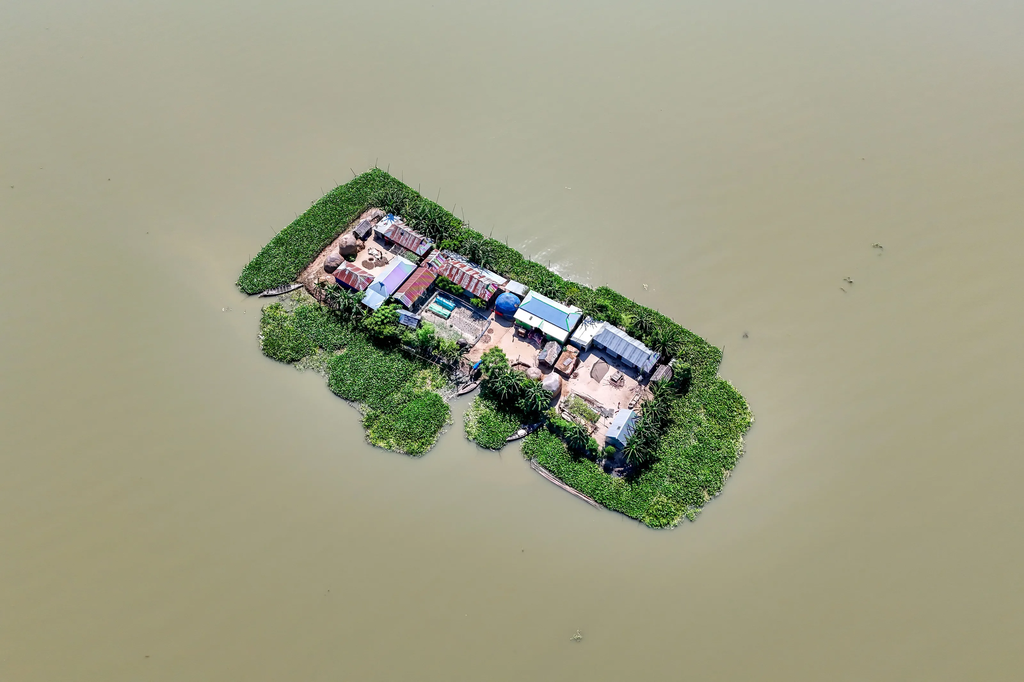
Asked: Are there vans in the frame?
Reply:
No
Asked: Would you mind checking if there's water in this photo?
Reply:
Yes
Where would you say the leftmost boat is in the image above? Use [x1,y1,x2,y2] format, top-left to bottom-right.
[258,283,302,298]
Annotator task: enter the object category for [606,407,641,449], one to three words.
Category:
house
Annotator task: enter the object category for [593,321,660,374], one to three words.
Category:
house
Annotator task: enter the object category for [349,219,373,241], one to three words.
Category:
shed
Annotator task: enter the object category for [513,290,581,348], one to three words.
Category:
building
